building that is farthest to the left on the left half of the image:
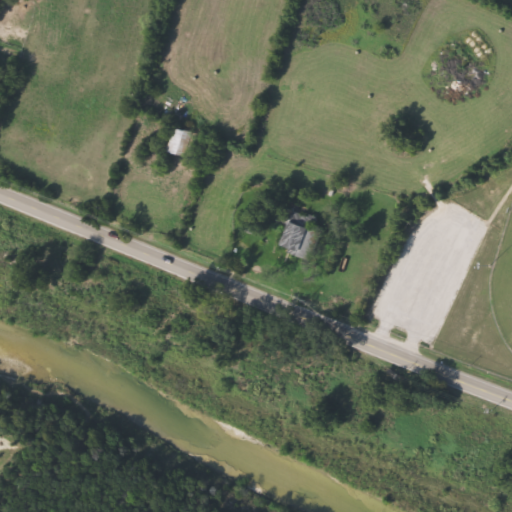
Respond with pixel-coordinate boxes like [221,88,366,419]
[170,130,192,155]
